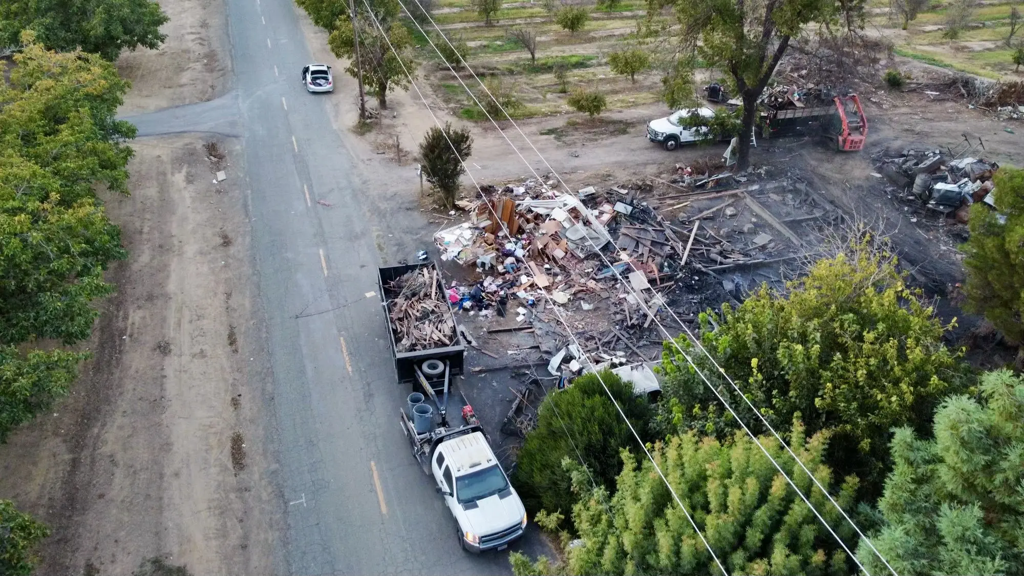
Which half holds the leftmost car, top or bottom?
top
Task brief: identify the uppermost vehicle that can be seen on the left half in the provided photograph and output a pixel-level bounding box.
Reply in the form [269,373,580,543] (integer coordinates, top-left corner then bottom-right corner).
[297,63,334,92]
